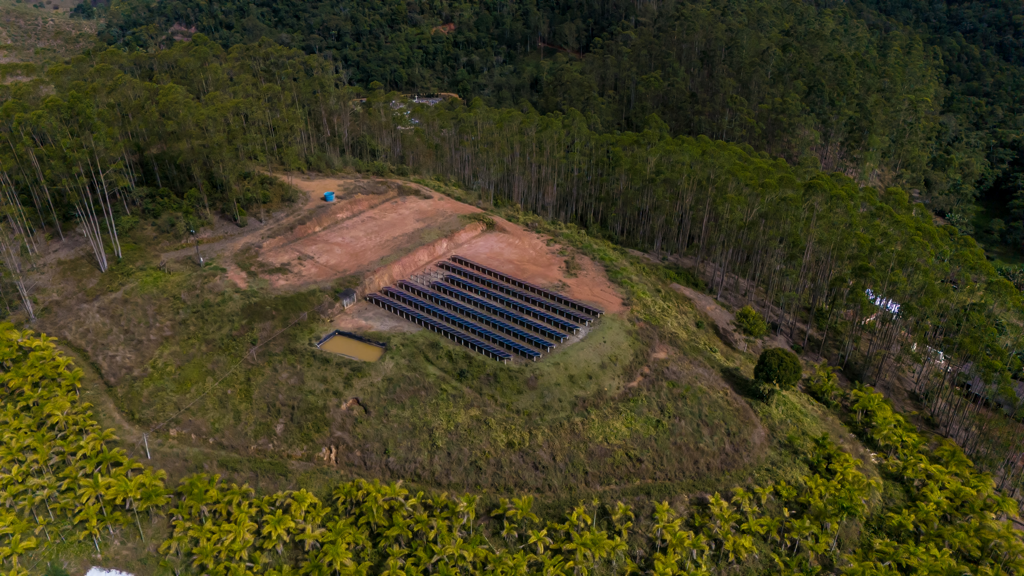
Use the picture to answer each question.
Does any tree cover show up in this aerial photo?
Yes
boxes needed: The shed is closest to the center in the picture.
[332,288,357,309]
